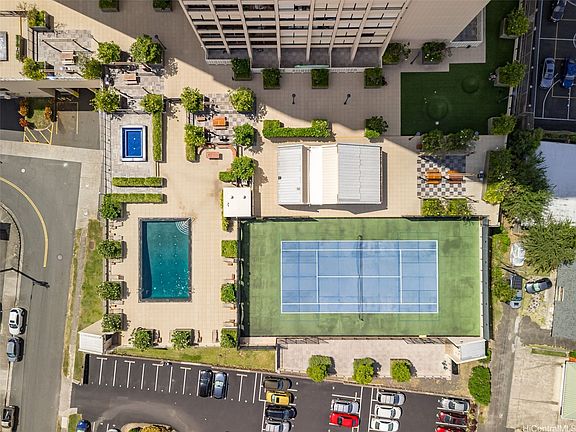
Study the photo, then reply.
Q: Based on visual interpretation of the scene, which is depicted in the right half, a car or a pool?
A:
car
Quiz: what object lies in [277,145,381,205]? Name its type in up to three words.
building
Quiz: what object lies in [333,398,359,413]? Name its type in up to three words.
car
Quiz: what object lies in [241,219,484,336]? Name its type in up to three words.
tennis court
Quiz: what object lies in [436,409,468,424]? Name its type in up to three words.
car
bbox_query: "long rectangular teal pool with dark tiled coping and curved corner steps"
[139,218,193,301]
